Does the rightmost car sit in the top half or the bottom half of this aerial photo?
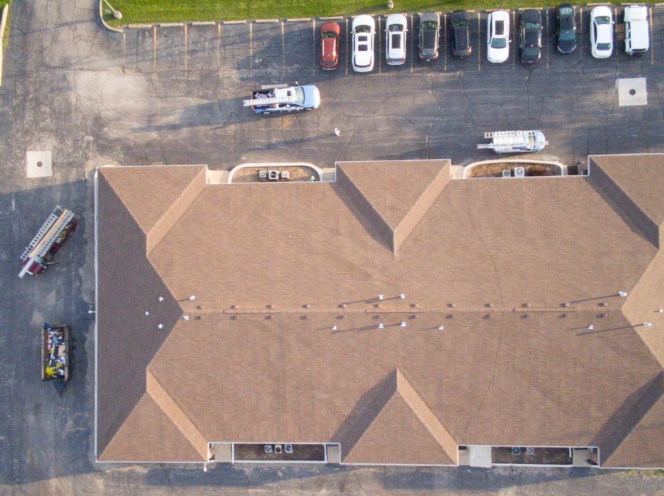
top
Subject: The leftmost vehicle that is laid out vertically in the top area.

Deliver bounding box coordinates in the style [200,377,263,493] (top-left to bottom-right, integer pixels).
[317,23,340,72]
